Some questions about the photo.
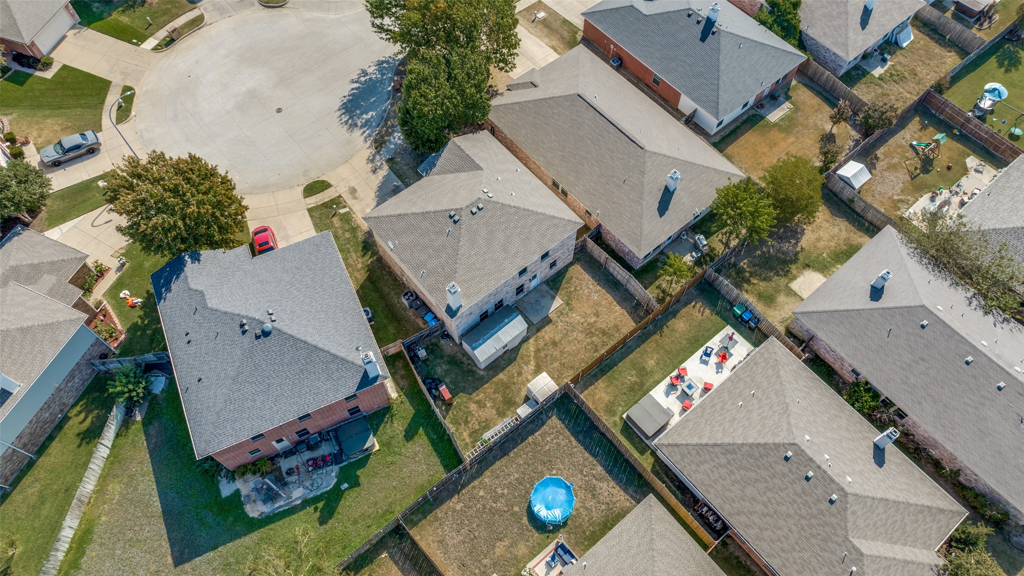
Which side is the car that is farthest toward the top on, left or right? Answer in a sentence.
You can find the car that is farthest toward the top on the left side of the picture.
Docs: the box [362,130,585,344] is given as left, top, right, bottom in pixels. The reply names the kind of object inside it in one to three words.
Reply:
house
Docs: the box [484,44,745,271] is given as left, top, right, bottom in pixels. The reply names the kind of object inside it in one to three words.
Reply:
house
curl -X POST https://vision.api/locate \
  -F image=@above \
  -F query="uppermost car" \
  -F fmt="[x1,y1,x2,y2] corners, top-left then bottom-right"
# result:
[37,128,101,167]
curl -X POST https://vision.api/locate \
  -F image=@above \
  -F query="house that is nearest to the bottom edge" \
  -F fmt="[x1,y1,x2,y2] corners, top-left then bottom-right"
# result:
[559,493,725,576]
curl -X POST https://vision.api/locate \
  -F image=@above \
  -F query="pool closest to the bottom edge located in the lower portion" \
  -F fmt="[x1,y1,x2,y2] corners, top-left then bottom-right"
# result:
[529,475,576,525]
